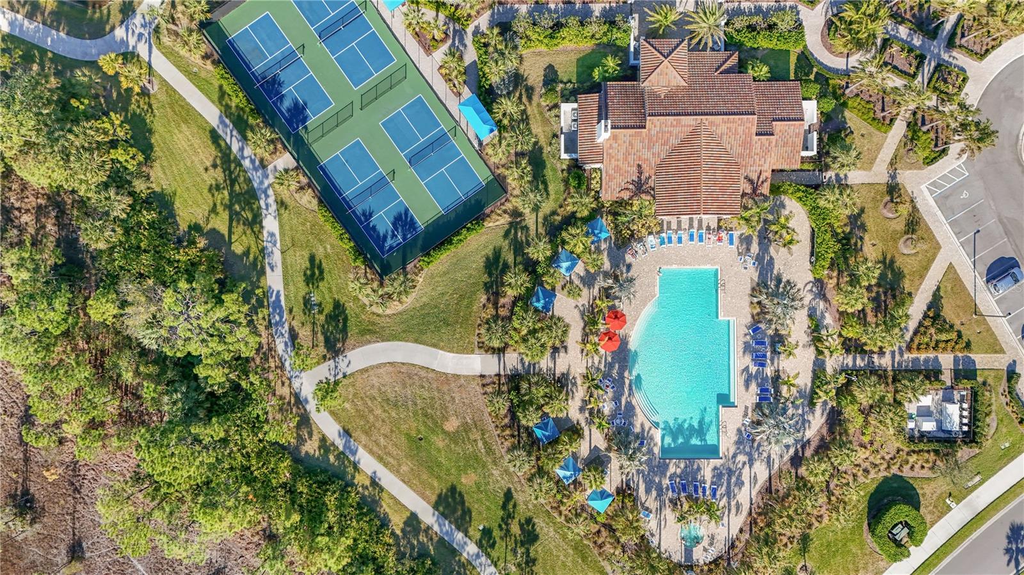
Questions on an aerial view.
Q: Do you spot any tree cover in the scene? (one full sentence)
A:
Yes, the picture does contain tree cover.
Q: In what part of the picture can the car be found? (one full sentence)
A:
The car appears toward the right of the photo.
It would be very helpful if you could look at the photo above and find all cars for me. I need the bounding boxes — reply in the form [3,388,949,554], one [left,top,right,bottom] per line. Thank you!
[983,266,1024,297]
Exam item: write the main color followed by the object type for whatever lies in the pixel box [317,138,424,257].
blue sports court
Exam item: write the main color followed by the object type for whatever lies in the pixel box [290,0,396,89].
blue sports court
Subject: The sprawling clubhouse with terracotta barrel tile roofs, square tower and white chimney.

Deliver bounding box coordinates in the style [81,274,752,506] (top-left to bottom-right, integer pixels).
[578,37,805,220]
